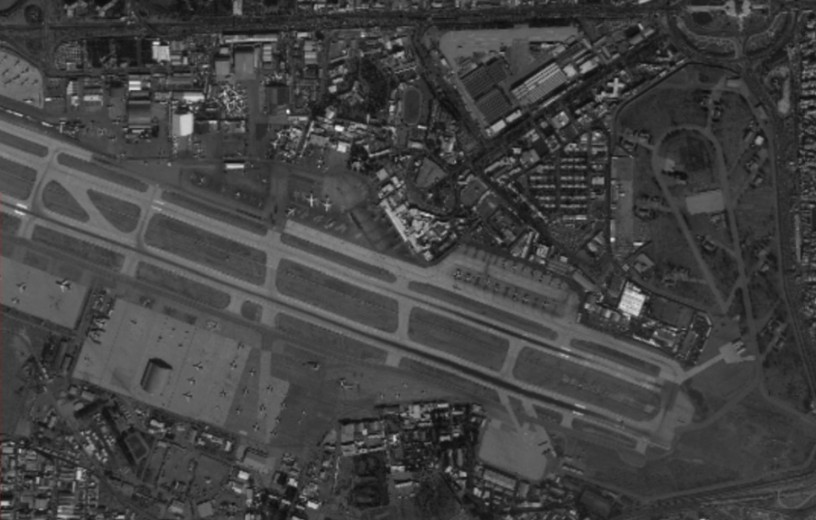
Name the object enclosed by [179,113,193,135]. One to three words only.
hangar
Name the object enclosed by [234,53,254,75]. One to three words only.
hangar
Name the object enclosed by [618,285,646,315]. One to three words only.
building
